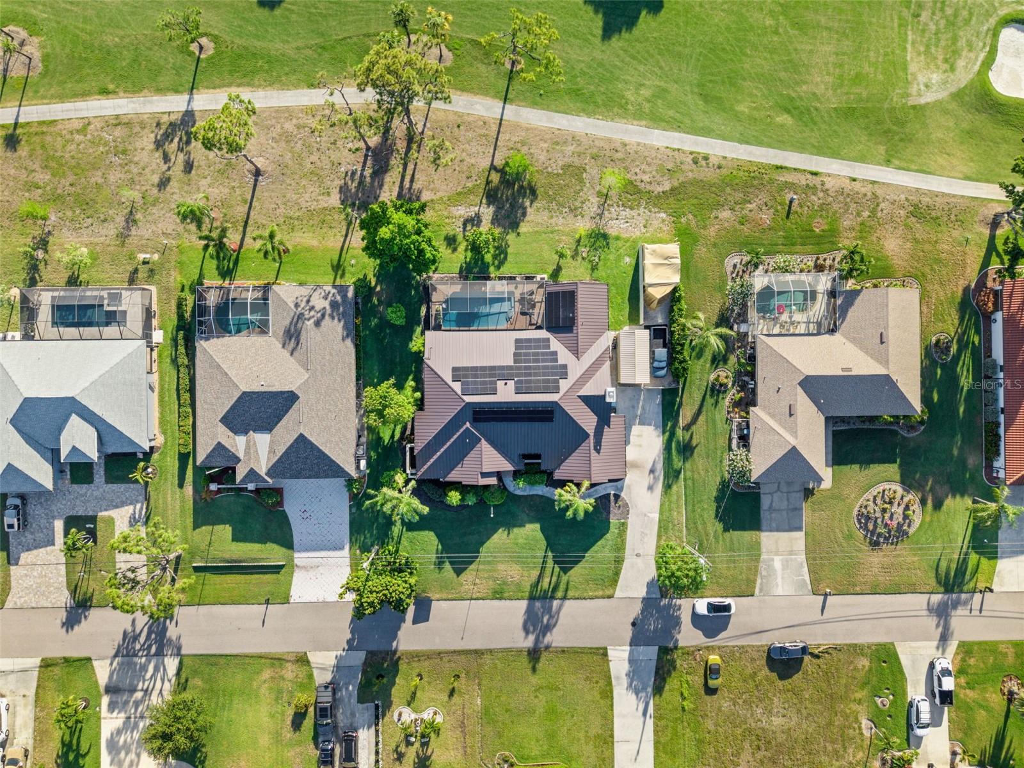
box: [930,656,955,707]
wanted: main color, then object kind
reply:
white truck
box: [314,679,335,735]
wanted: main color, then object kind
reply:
gray truck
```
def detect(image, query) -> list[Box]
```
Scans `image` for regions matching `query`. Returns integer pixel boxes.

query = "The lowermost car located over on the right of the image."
[908,694,930,735]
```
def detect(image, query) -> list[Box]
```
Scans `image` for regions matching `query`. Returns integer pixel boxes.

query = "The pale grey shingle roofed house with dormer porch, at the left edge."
[0,340,153,491]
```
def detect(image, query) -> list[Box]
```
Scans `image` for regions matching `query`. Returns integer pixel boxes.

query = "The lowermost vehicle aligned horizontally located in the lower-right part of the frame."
[767,640,807,659]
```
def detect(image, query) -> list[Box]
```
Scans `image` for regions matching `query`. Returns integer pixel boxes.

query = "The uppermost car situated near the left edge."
[3,493,27,531]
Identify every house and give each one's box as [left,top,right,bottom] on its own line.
[195,285,356,484]
[414,281,626,485]
[0,340,153,491]
[988,278,1024,485]
[747,285,920,483]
